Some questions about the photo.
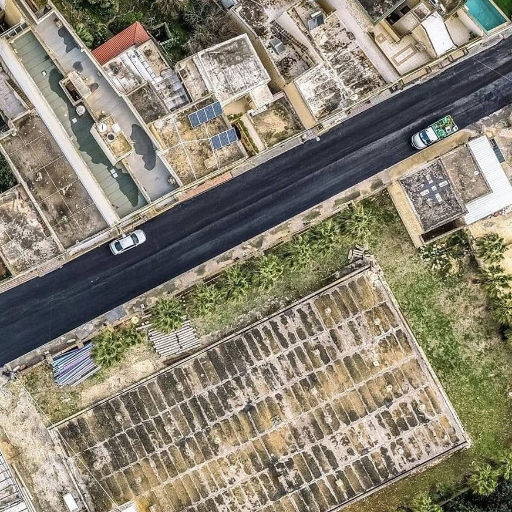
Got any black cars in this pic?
No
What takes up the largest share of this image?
buildings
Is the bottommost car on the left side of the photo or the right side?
left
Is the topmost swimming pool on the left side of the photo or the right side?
right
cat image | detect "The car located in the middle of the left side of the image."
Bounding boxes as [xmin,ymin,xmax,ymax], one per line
[110,228,146,255]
